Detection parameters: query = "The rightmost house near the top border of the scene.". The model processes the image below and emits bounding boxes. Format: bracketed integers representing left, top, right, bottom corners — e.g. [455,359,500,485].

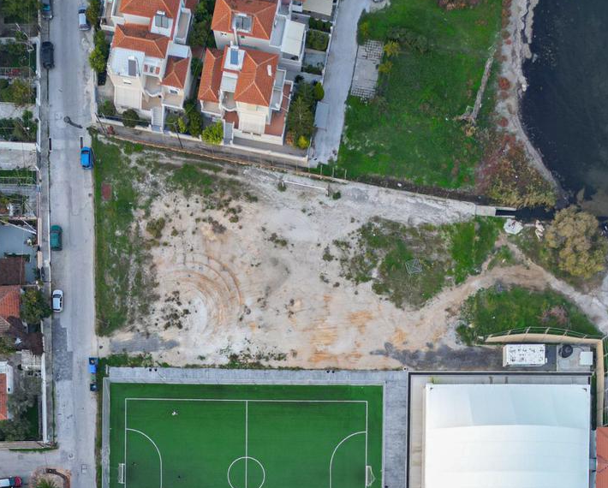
[197,0,333,147]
